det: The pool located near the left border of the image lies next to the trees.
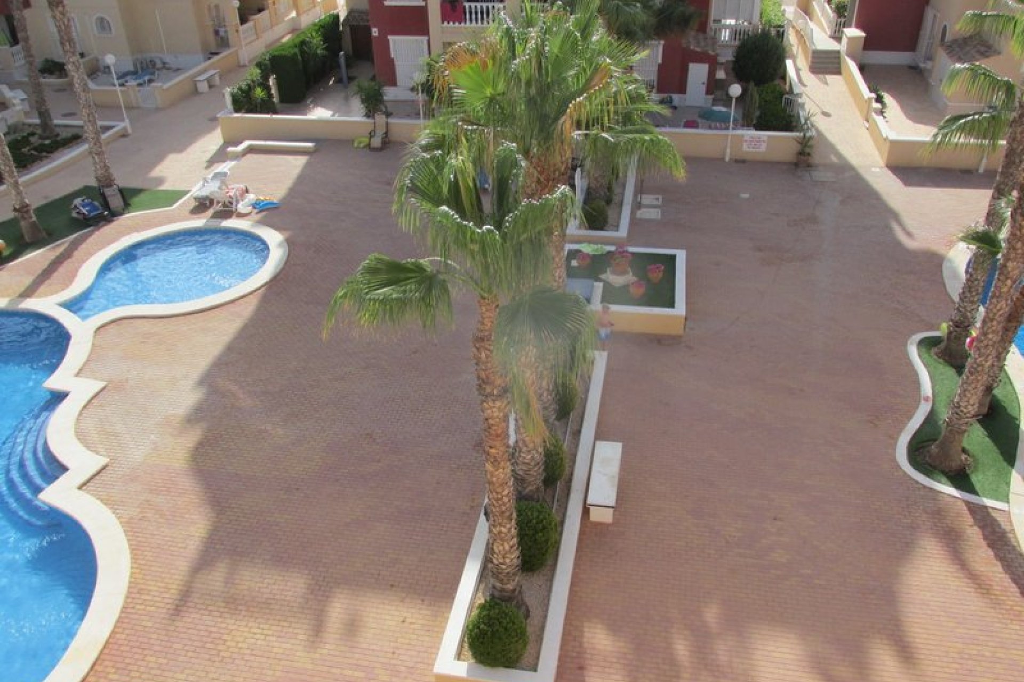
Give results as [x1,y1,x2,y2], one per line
[0,217,288,682]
